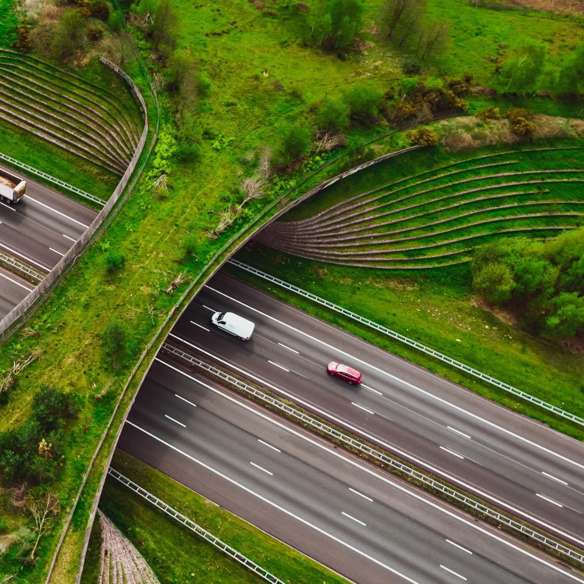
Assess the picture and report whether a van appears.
Yes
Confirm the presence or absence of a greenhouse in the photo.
No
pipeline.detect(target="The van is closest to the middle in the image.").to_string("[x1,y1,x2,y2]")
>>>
[215,316,260,344]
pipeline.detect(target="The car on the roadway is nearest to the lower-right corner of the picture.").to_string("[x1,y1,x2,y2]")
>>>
[327,365,363,389]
